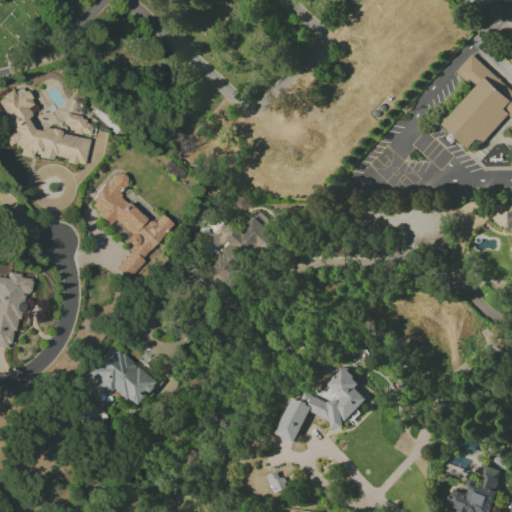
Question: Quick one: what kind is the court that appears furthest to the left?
basketball court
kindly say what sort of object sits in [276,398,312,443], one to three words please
barn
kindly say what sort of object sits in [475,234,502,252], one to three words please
swimming pool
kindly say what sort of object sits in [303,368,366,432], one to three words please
house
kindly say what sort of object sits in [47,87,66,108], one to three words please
swimming pool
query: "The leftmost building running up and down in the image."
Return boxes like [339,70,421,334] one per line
[0,272,34,346]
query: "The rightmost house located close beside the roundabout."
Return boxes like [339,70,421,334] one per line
[93,171,174,274]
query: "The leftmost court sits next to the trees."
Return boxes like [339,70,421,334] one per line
[371,145,422,194]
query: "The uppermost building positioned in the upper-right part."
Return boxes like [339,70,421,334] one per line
[442,52,512,152]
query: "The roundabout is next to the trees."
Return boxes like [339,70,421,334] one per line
[32,164,78,210]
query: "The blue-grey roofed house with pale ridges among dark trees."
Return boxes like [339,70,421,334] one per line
[92,352,157,407]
